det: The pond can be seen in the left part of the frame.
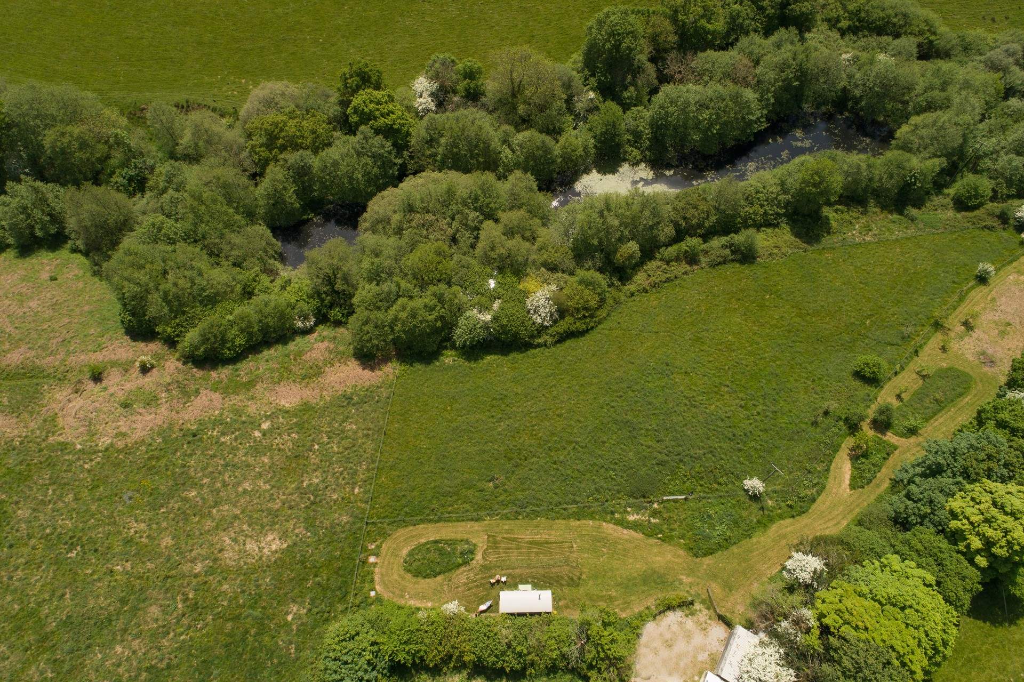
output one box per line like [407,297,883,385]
[263,194,376,275]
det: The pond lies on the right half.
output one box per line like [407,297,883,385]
[539,104,896,221]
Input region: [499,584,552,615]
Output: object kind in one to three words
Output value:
shed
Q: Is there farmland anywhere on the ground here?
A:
Yes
